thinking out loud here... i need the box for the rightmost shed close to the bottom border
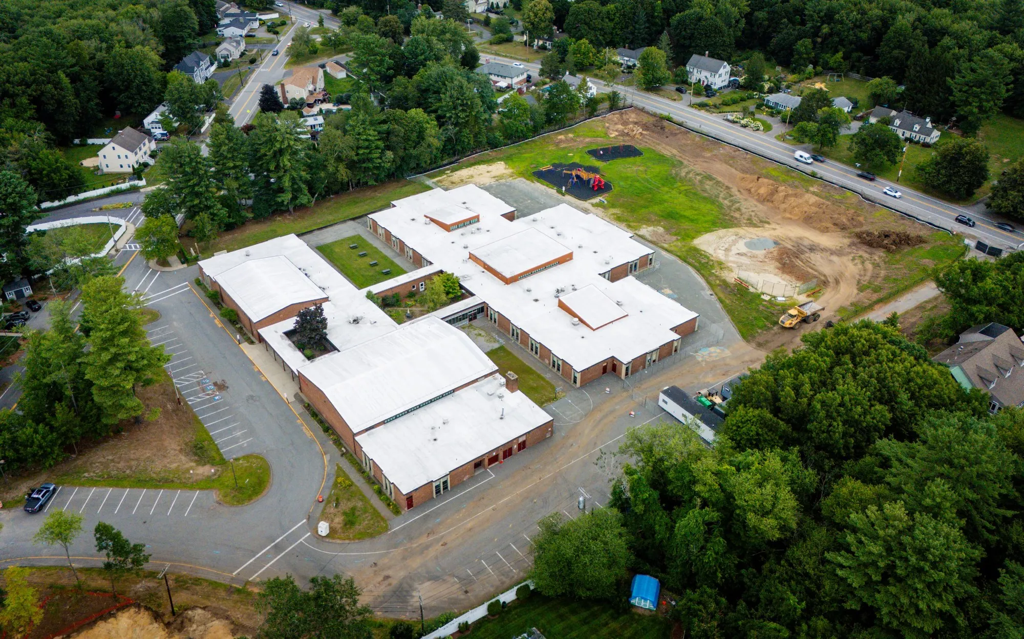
[629,564,664,610]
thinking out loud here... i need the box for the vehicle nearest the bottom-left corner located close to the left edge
[23,481,55,506]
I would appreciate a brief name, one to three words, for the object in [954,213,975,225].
vehicle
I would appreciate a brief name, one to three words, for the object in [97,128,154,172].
house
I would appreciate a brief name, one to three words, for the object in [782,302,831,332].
truck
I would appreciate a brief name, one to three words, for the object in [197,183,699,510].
building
